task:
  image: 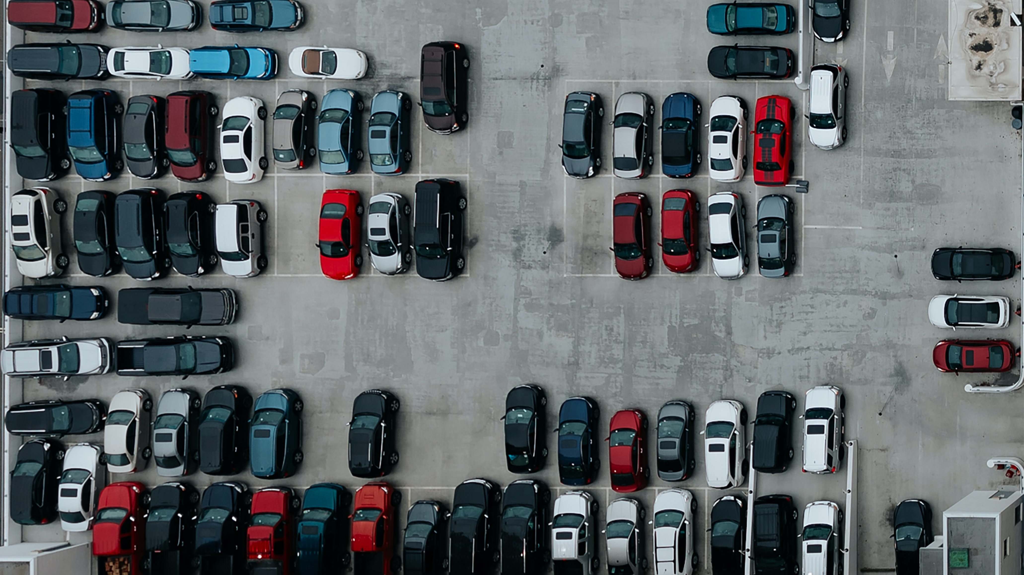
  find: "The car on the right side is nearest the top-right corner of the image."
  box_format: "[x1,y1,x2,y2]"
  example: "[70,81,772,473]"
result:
[808,0,850,43]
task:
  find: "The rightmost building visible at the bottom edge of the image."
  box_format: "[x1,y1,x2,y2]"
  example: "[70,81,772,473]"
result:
[943,491,1024,575]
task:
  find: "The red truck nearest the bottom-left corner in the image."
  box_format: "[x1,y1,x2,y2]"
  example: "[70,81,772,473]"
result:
[94,481,151,575]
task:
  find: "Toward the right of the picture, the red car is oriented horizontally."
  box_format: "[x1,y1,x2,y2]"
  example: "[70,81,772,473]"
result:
[933,336,1015,377]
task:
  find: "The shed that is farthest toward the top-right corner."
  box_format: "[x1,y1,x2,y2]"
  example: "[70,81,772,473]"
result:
[948,0,1024,101]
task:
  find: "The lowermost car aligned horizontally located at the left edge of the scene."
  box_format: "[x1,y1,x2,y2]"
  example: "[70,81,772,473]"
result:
[5,397,107,443]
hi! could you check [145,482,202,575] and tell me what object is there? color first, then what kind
black truck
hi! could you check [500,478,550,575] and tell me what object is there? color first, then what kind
black car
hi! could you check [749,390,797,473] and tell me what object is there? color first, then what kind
black car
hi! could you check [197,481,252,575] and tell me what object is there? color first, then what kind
black truck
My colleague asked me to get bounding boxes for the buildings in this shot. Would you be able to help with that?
[0,542,89,575]
[943,491,1024,575]
[948,0,1024,101]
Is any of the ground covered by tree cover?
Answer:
No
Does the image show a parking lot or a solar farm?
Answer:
parking lot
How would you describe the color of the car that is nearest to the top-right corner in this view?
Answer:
black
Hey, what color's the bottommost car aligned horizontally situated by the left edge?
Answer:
black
